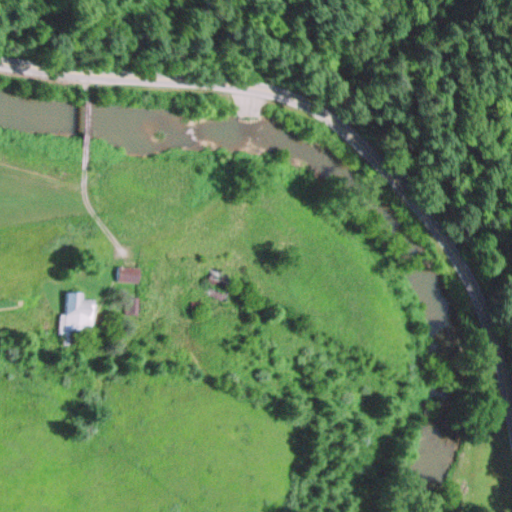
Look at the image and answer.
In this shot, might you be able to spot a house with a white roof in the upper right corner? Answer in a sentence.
No, there's no house with a white roof to be seen in the upper right corner.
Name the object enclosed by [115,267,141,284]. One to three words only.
barn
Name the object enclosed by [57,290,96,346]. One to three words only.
house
